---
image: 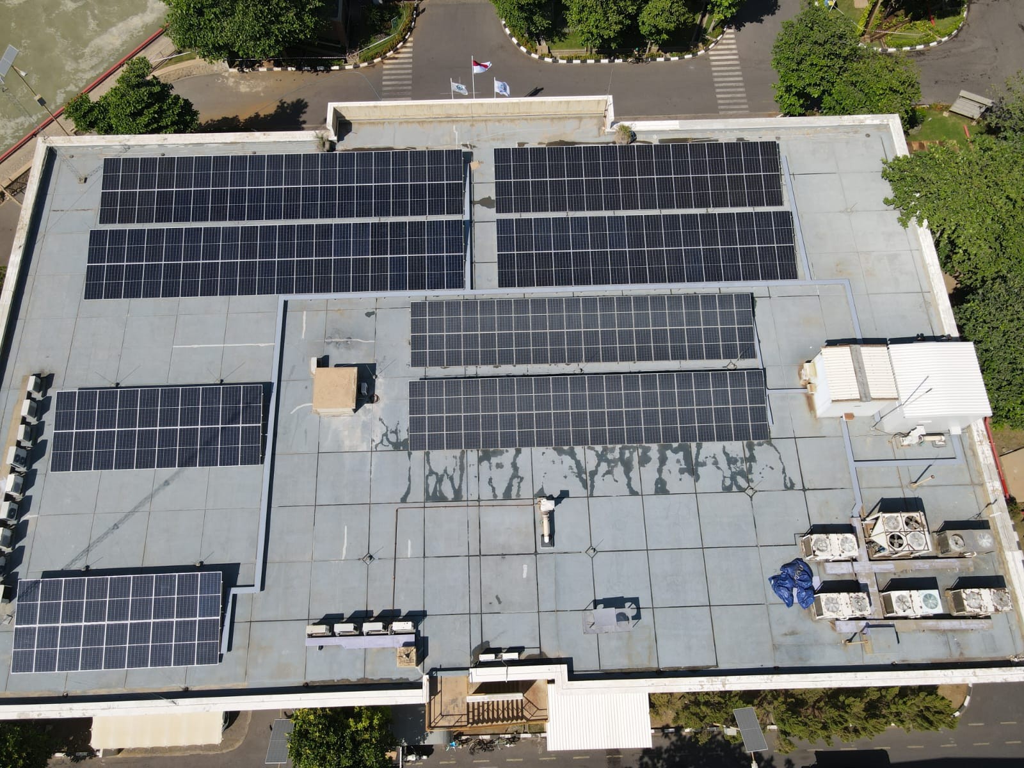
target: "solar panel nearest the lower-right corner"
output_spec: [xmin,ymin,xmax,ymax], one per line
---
[733,706,768,752]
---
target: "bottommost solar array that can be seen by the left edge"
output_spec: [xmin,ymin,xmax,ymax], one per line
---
[11,572,229,673]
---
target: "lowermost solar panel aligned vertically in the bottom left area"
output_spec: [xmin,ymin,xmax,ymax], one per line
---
[265,719,294,763]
